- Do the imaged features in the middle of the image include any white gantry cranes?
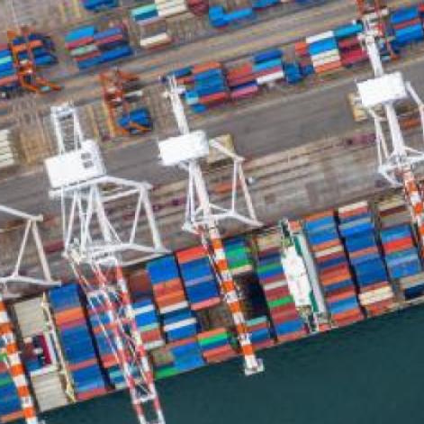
Yes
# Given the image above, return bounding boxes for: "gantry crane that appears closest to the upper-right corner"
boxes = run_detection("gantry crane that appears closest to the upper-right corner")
[358,0,409,66]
